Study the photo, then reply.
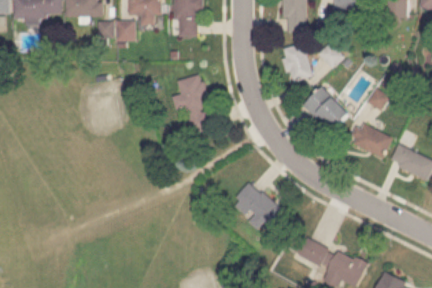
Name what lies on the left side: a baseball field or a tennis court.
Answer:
baseball field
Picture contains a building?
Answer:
Yes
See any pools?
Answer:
Yes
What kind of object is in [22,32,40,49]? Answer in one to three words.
swimming pool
